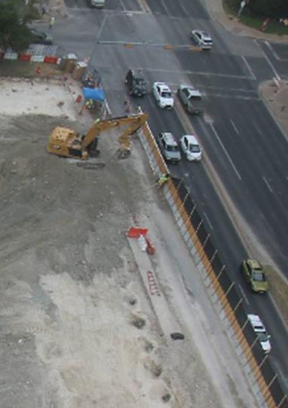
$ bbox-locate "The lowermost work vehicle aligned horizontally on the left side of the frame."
[50,110,153,159]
